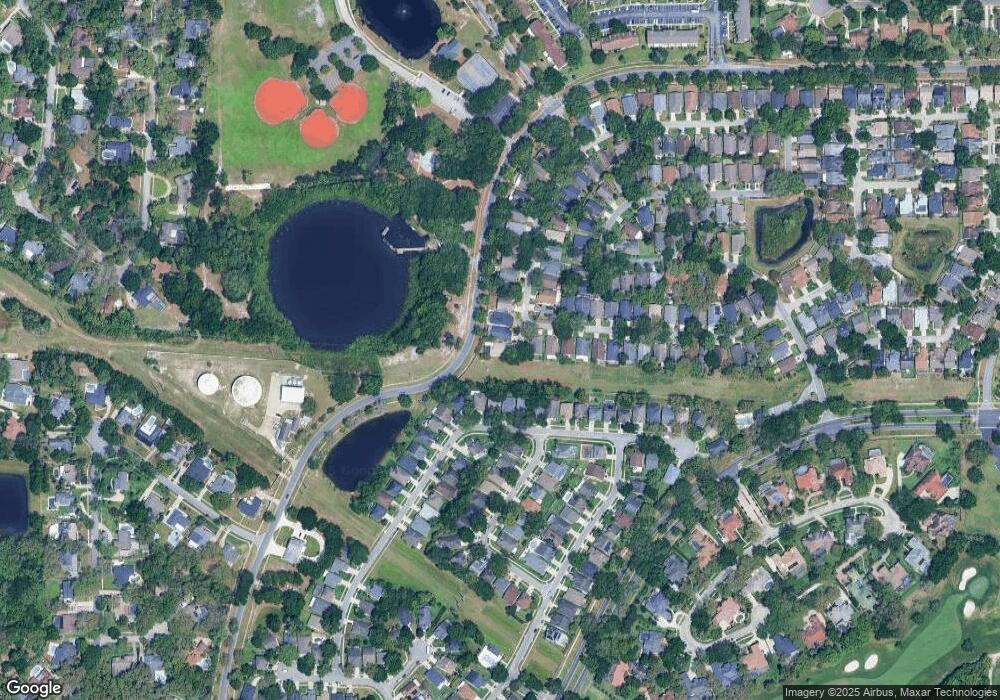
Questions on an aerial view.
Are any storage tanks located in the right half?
No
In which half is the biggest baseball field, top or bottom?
top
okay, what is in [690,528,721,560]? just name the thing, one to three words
house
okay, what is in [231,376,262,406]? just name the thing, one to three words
storage tank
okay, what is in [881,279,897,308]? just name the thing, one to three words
house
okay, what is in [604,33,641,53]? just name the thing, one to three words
building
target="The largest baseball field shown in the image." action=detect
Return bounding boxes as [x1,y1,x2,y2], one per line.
[253,76,311,126]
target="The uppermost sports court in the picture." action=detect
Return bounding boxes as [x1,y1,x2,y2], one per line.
[458,54,498,93]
